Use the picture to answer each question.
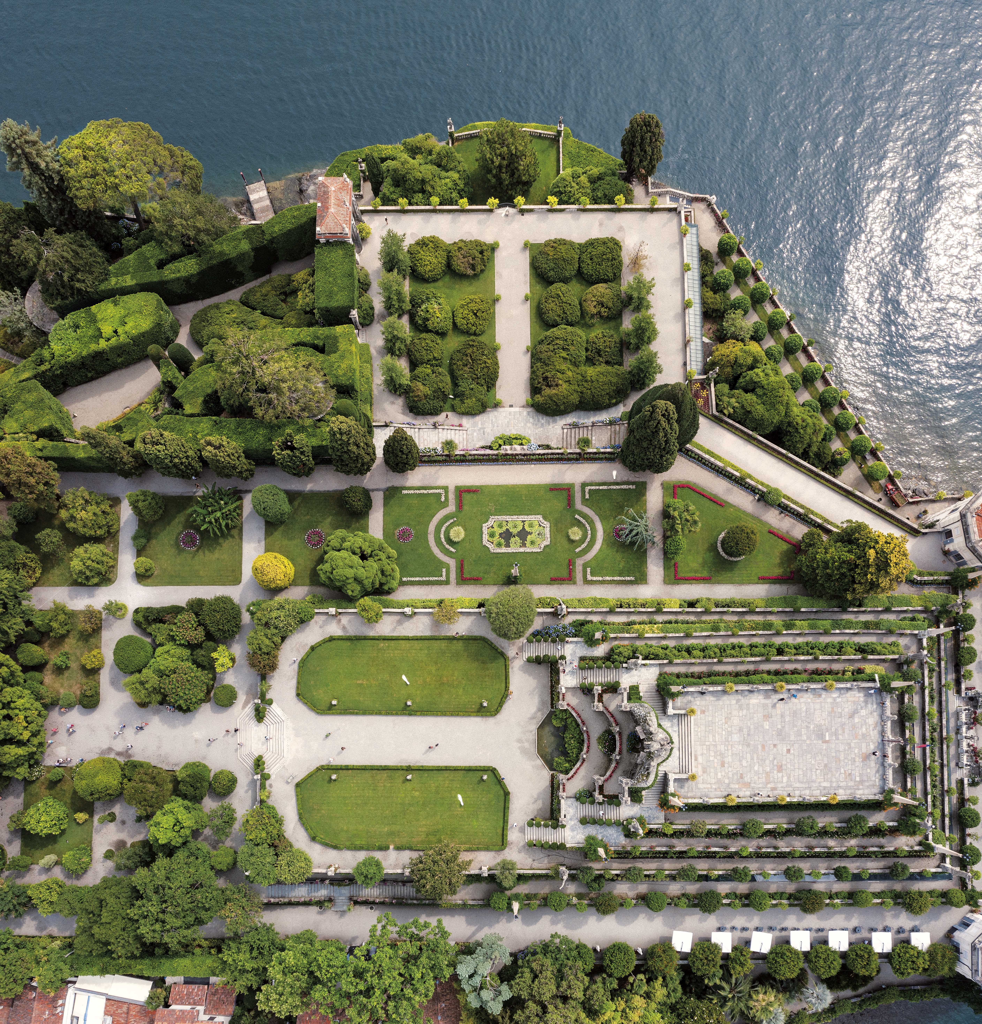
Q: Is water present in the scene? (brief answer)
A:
Yes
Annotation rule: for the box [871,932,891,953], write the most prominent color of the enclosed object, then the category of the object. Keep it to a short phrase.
white umbrella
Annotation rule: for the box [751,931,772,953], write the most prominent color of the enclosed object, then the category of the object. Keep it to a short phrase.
white umbrella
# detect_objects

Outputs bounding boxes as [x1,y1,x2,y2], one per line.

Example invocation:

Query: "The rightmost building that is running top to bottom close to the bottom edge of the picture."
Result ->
[945,904,982,990]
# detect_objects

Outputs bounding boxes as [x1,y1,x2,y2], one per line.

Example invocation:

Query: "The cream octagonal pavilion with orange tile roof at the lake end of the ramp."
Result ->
[927,487,982,576]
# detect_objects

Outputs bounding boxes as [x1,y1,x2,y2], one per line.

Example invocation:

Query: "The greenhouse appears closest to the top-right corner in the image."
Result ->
[685,223,704,375]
